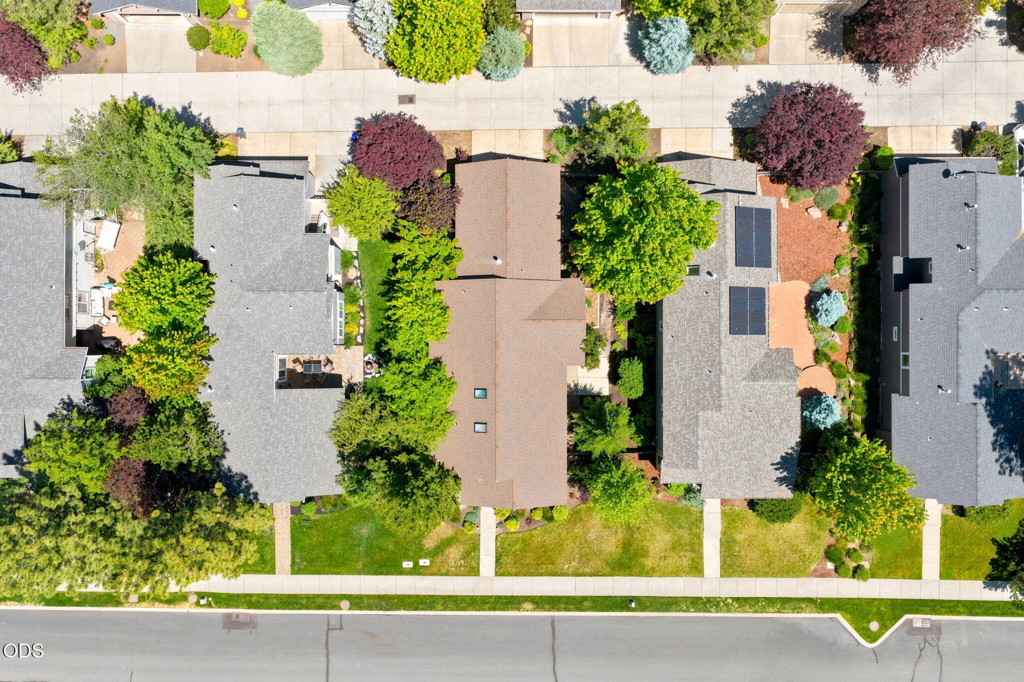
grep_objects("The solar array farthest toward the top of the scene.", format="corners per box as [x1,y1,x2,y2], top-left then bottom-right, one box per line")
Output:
[737,205,773,268]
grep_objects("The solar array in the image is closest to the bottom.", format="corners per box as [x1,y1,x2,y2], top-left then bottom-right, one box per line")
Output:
[731,286,767,336]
